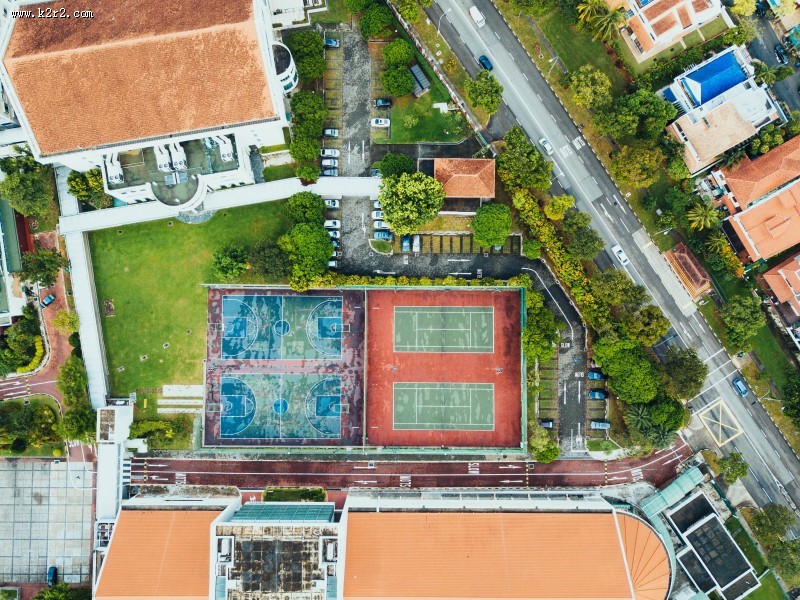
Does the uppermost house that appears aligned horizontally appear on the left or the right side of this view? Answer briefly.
right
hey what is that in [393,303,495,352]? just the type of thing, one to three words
tennis court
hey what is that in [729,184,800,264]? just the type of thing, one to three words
house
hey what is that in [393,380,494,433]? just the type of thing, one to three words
tennis court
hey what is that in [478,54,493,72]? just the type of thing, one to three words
car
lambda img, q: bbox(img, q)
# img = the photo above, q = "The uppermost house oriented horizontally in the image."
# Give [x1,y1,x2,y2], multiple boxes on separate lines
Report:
[599,0,721,57]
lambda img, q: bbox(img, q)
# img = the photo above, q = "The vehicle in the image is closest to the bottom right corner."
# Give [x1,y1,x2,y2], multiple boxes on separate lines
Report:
[730,376,748,396]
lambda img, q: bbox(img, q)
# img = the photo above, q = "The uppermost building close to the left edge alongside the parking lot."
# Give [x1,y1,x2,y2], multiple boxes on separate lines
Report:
[0,0,288,170]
